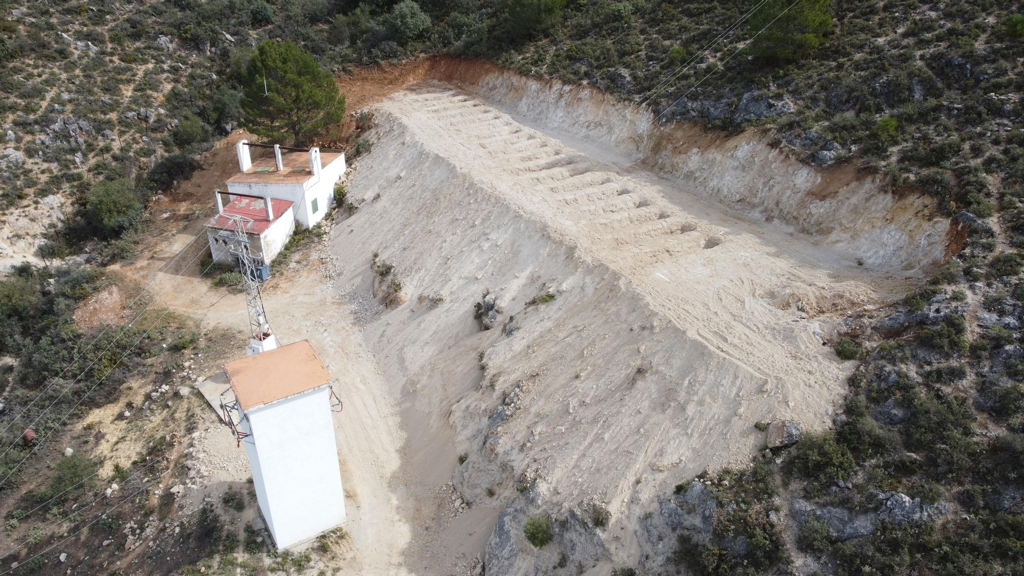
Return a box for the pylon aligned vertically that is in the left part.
[210,219,274,359]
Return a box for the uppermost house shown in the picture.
[226,146,347,224]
